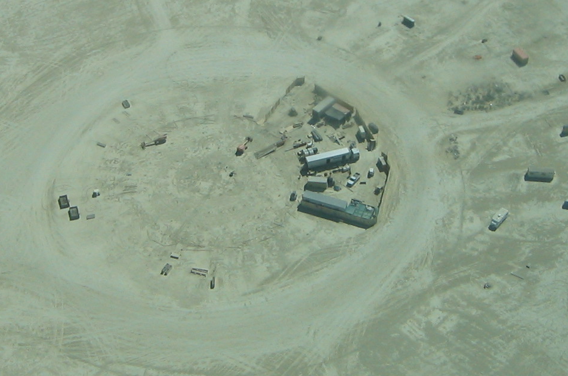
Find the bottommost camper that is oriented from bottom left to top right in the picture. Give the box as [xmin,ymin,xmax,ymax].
[488,207,510,232]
